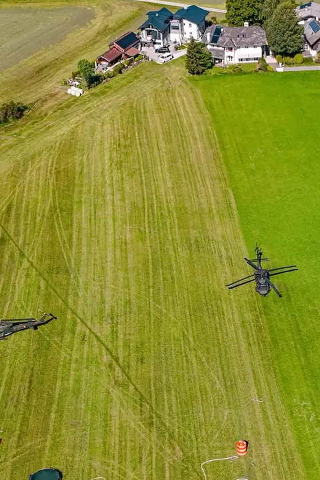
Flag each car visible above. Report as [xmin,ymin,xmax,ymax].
[159,52,173,61]
[155,48,170,55]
